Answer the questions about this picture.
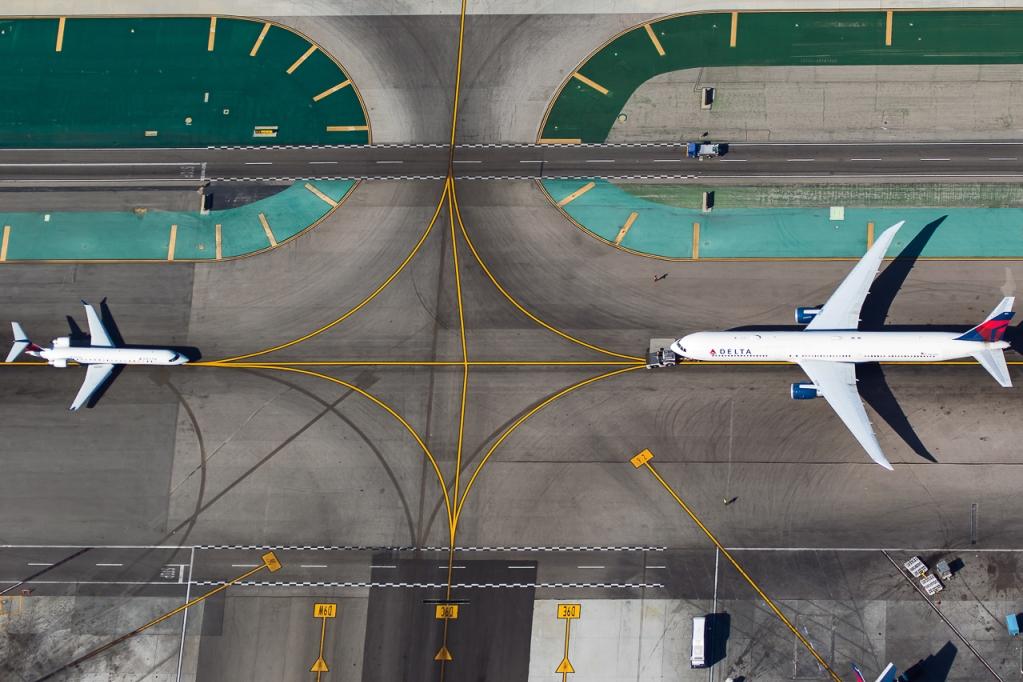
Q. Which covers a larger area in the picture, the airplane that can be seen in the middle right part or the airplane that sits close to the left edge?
the airplane that can be seen in the middle right part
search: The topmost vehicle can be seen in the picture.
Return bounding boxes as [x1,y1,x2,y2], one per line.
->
[686,142,719,160]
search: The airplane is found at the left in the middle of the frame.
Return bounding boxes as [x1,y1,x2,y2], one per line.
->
[7,301,189,410]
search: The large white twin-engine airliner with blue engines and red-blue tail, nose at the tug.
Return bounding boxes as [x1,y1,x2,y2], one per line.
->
[669,220,1014,469]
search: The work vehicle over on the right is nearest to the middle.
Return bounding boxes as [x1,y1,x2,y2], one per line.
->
[645,351,687,369]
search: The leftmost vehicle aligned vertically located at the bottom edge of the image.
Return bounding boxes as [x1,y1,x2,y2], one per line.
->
[689,618,706,669]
